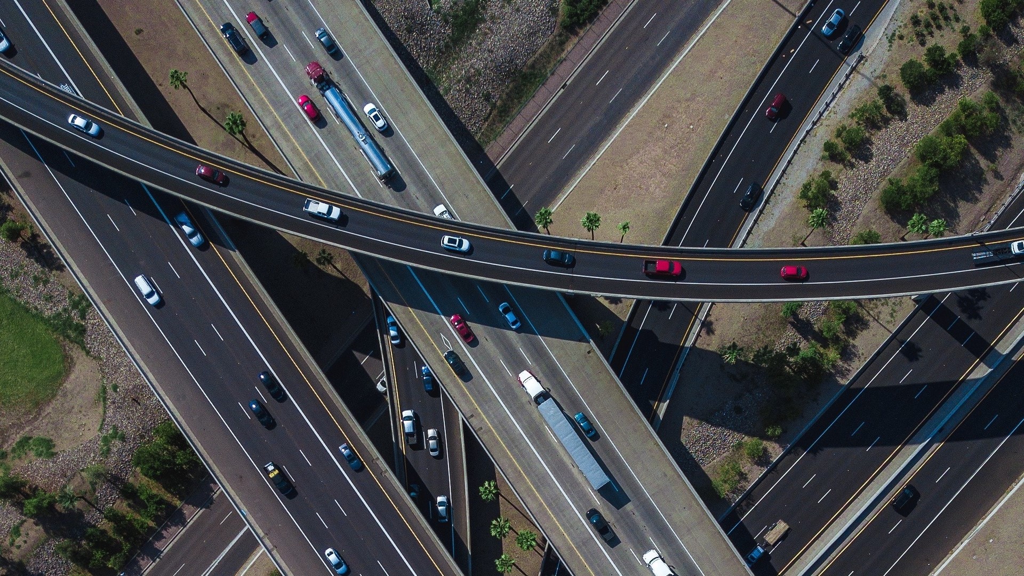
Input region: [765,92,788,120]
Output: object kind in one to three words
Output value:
car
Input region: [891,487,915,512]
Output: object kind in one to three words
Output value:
car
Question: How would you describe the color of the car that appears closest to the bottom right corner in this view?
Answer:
black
